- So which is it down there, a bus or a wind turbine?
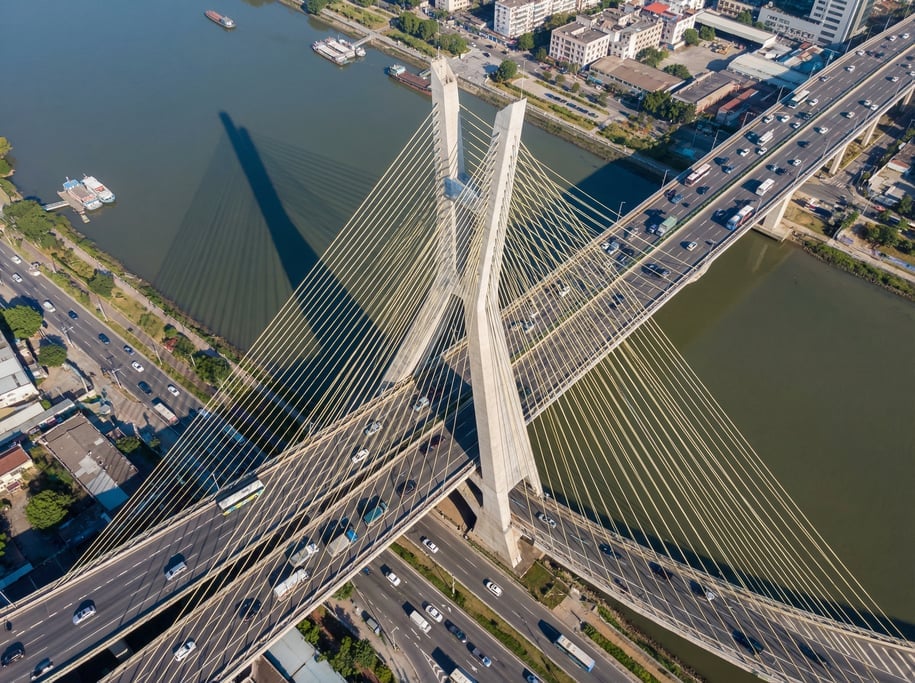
bus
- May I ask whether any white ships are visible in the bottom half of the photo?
No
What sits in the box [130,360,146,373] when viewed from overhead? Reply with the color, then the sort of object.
white vehicle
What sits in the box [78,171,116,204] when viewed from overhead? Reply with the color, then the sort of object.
white ship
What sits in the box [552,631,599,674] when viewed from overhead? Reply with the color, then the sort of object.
white bus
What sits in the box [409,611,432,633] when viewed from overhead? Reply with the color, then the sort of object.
white vehicle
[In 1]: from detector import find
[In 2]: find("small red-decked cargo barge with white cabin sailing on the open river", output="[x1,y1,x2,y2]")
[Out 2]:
[205,13,238,31]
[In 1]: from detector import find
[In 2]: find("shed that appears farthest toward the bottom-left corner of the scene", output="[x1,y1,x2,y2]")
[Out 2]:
[0,561,40,603]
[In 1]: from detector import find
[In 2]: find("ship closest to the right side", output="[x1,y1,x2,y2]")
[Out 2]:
[386,62,434,97]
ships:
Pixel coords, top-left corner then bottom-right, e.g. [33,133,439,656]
[56,173,103,212]
[78,171,116,204]
[326,38,357,58]
[386,62,434,97]
[314,45,345,68]
[205,13,238,31]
